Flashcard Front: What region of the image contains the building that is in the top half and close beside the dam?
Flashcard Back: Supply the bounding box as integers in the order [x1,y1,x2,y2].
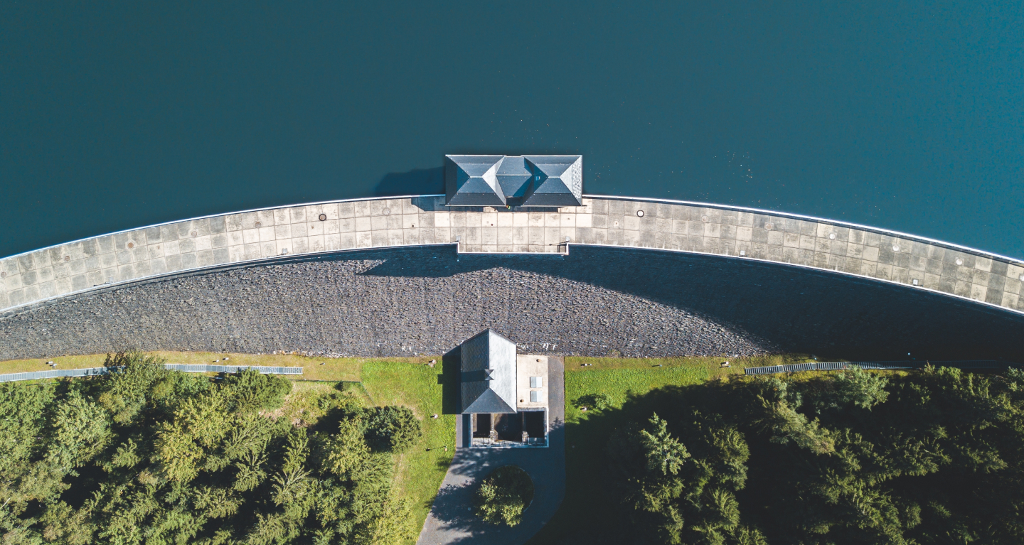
[445,154,583,207]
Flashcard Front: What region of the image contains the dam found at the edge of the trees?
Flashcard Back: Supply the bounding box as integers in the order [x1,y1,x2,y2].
[0,193,1024,369]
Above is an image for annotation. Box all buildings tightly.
[445,154,583,207]
[460,327,548,414]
